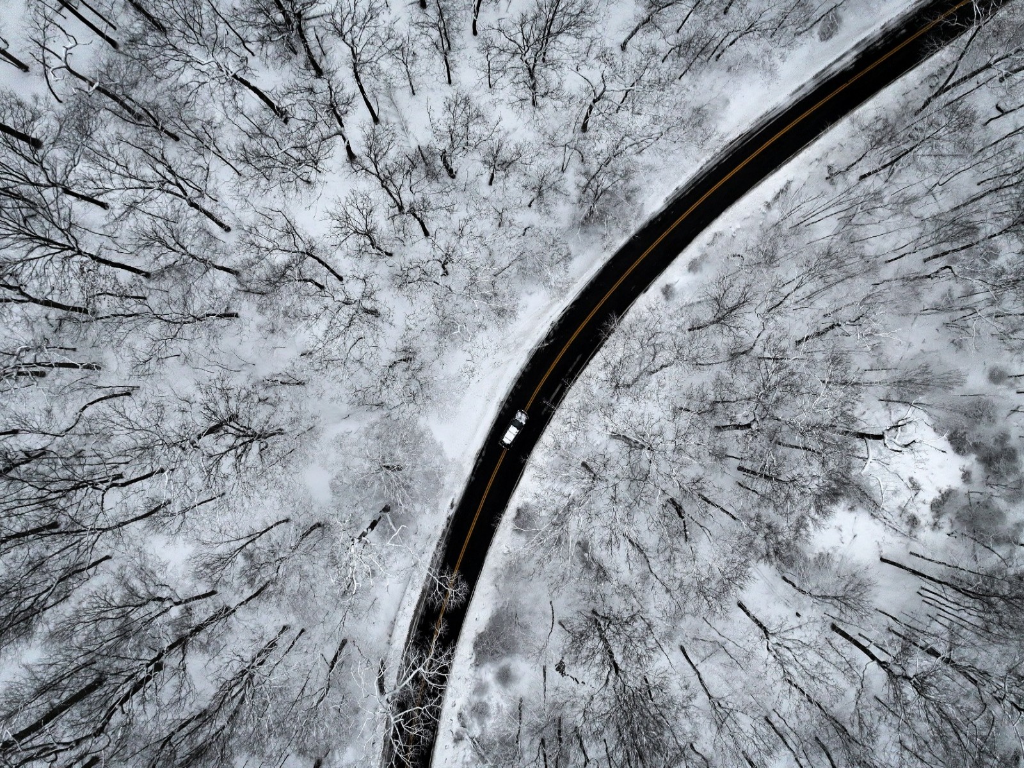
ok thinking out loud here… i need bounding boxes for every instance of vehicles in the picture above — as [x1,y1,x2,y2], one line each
[498,408,529,449]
